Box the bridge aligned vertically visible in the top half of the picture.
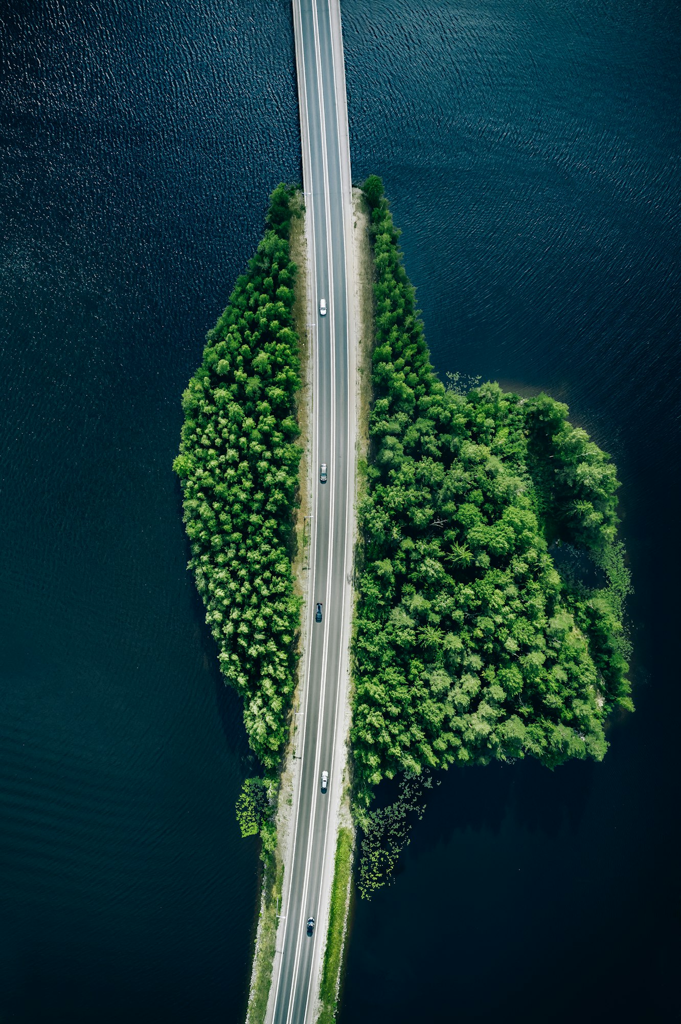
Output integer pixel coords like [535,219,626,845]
[292,0,354,223]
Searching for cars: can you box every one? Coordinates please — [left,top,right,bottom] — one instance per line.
[319,465,327,481]
[315,603,323,620]
[321,770,329,787]
[307,916,314,933]
[319,299,327,315]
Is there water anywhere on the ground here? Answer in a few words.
Yes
